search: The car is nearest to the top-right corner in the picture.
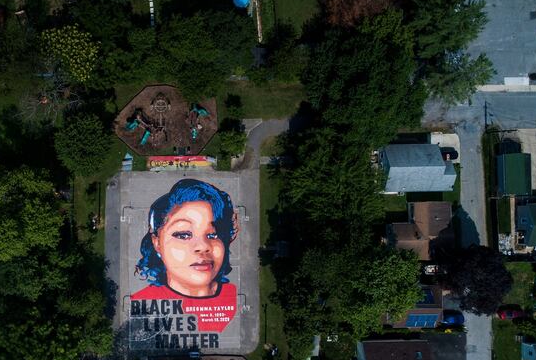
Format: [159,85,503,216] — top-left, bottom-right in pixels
[441,147,462,160]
